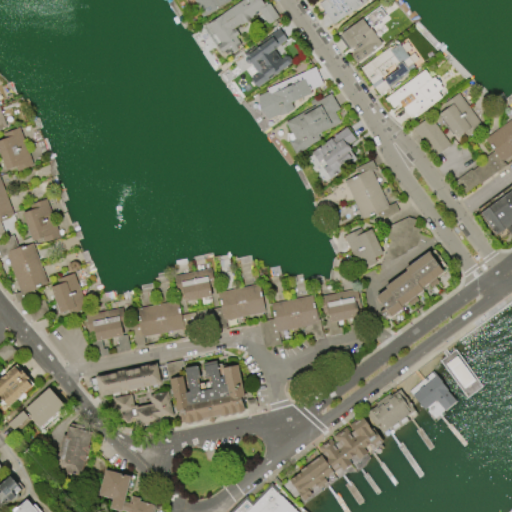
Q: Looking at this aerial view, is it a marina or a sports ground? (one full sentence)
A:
The area seen from above is a marina.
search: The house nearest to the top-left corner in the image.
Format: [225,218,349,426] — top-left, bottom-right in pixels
[0,128,34,174]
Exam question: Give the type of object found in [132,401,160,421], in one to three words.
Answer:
building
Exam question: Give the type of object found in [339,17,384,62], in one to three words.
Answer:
house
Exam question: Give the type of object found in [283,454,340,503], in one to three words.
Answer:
building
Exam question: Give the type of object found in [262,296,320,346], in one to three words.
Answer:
house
